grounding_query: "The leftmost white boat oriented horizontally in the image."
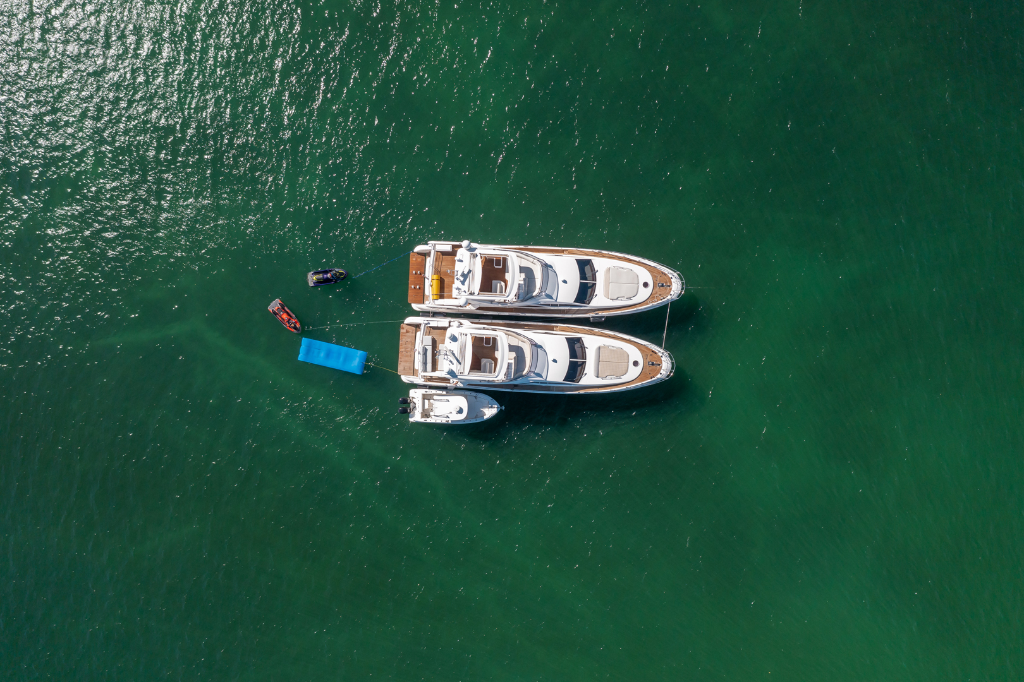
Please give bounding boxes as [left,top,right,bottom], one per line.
[398,389,505,423]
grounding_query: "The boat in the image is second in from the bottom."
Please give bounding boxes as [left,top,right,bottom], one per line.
[398,317,677,394]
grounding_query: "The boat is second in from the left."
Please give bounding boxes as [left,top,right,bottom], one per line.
[308,269,348,286]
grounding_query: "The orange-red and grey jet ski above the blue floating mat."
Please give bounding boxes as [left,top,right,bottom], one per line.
[269,300,301,333]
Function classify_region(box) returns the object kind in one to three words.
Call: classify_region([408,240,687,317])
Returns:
boat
